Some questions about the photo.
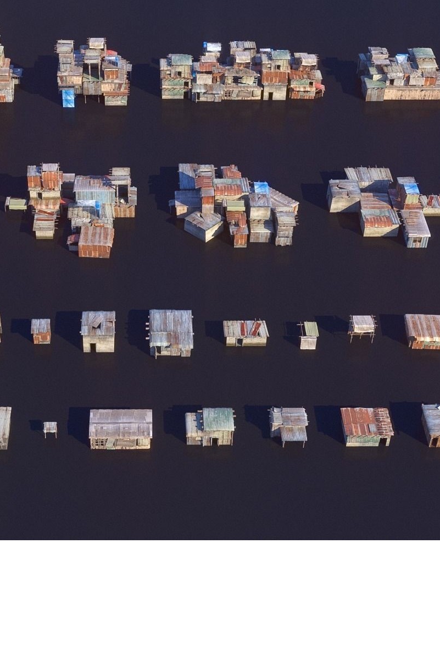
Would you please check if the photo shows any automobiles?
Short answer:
No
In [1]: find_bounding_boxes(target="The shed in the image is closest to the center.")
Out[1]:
[225,318,269,346]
